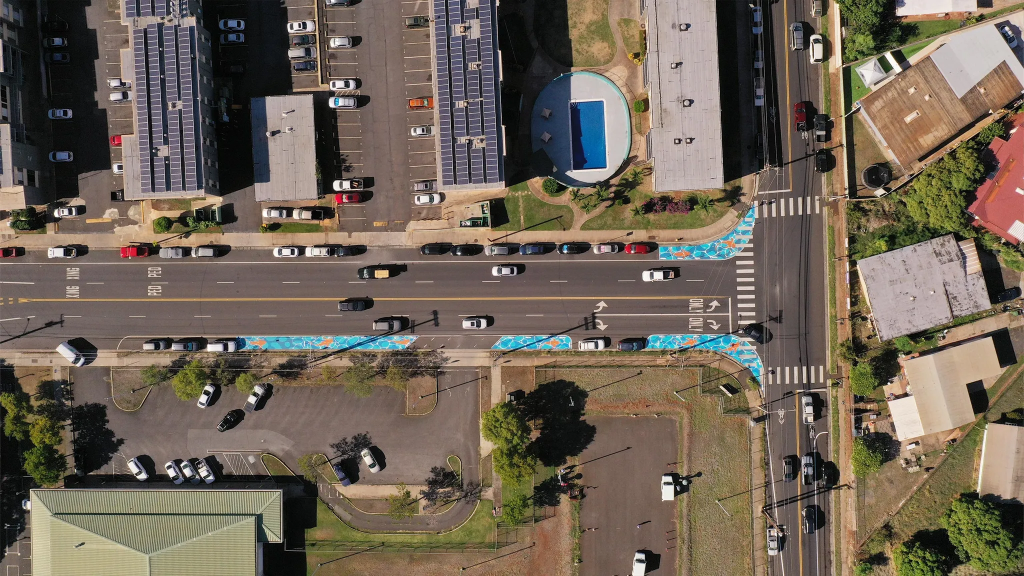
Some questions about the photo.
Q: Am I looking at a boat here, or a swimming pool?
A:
swimming pool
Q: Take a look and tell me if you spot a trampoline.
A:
Yes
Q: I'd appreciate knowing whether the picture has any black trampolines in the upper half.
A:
Yes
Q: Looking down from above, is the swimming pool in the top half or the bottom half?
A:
top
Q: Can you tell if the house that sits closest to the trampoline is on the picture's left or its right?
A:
right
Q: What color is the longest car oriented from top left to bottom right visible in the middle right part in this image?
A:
black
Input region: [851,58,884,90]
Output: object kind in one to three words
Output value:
gazebo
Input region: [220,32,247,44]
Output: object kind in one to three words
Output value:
vehicle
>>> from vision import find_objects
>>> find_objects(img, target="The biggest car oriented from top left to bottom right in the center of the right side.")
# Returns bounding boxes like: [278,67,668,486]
[740,323,765,343]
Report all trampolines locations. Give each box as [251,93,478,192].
[860,163,894,190]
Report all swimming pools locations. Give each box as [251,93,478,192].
[531,70,632,188]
